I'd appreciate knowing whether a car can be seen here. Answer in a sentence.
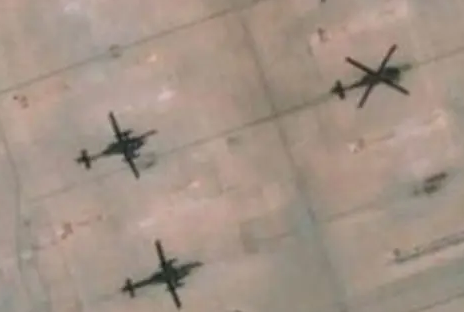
No, the scene contains no car.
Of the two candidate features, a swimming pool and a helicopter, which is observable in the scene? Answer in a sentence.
Looking from above, you can make out a helicopter.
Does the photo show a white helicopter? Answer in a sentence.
No, I can't see a single white helicopter in this photo.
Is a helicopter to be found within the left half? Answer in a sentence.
Yes, looking within the left half, one can make out a helicopter.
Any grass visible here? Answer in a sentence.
No, no grass is visible.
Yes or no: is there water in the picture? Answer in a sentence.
No, the picture contains no water.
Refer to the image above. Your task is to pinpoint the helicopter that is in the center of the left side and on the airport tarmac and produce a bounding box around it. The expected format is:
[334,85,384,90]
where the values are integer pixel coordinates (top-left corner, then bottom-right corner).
[80,111,157,177]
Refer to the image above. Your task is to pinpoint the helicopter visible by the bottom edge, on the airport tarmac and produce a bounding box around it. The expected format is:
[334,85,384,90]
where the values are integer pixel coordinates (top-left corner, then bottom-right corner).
[125,242,202,310]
